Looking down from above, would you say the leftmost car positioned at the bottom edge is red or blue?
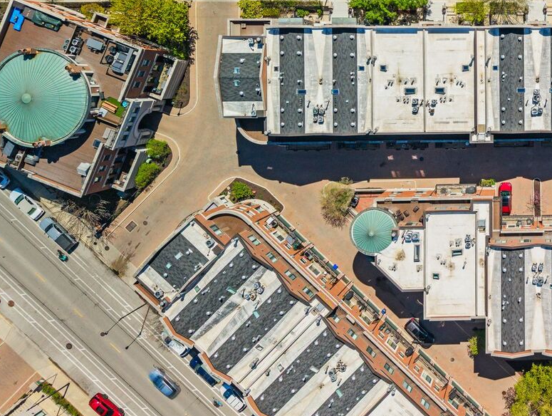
red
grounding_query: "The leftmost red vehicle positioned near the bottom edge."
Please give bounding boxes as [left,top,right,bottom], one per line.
[86,392,119,416]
